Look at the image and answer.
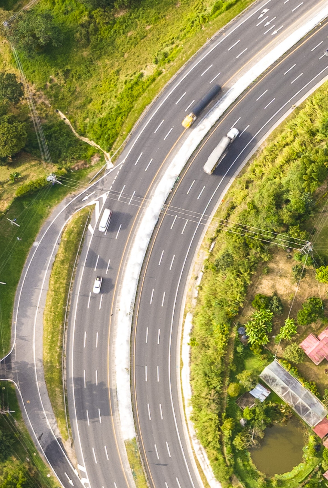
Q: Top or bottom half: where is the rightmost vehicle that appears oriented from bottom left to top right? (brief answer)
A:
top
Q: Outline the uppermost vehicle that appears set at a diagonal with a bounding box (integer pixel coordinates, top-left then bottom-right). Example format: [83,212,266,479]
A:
[185,86,222,129]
